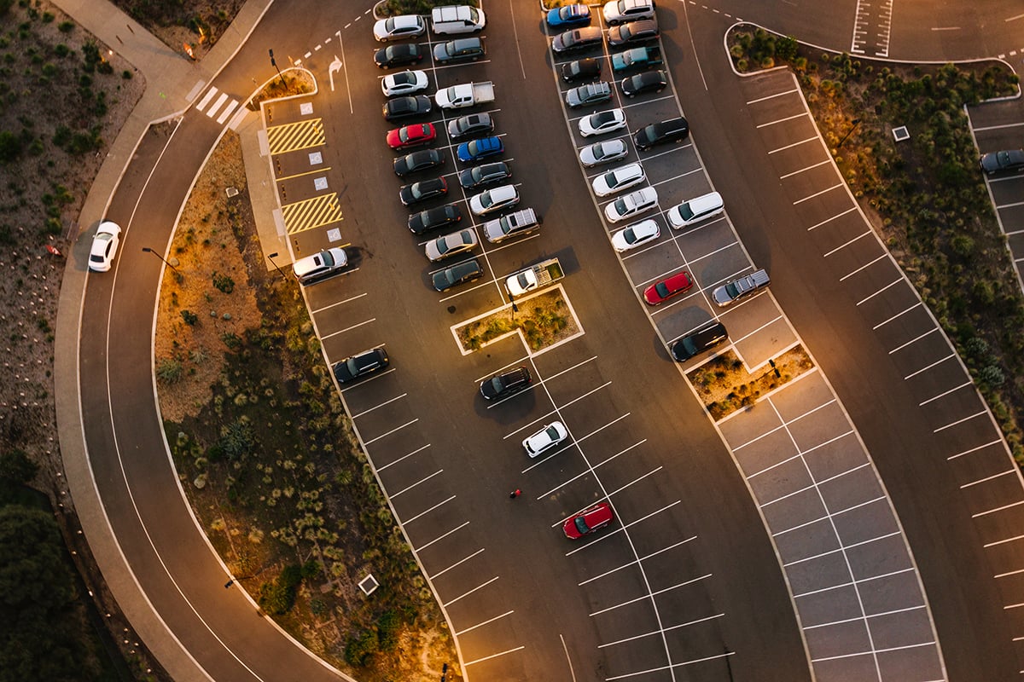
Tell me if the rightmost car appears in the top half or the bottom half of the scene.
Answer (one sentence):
The rightmost car sits in the top half of the picture.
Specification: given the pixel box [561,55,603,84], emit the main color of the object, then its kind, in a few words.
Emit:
black car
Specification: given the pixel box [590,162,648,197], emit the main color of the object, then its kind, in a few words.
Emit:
white car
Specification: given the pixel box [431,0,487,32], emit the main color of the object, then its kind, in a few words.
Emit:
white van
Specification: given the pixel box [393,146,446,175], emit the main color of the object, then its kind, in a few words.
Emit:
black car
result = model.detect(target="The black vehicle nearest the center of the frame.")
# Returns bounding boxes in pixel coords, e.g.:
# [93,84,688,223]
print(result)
[477,364,535,401]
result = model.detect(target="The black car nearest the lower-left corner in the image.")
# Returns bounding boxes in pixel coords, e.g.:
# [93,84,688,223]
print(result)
[333,346,392,382]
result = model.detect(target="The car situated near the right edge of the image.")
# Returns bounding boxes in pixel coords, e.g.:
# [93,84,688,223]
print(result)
[978,147,1024,174]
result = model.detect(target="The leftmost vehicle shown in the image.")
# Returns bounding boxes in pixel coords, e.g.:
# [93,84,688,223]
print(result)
[88,221,123,273]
